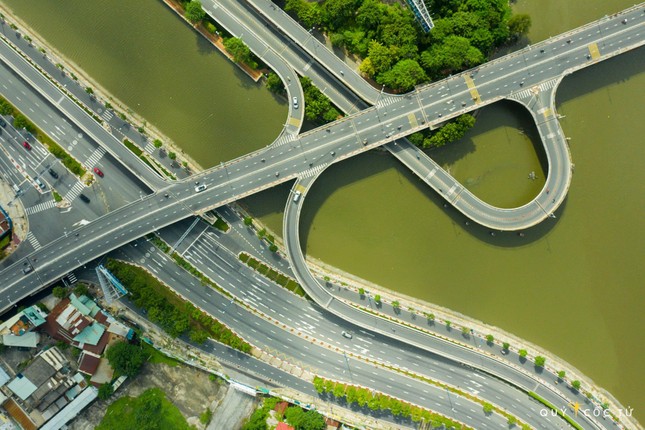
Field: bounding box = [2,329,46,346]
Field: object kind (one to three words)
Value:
house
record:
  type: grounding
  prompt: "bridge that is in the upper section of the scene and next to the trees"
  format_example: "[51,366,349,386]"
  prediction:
[0,3,645,312]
